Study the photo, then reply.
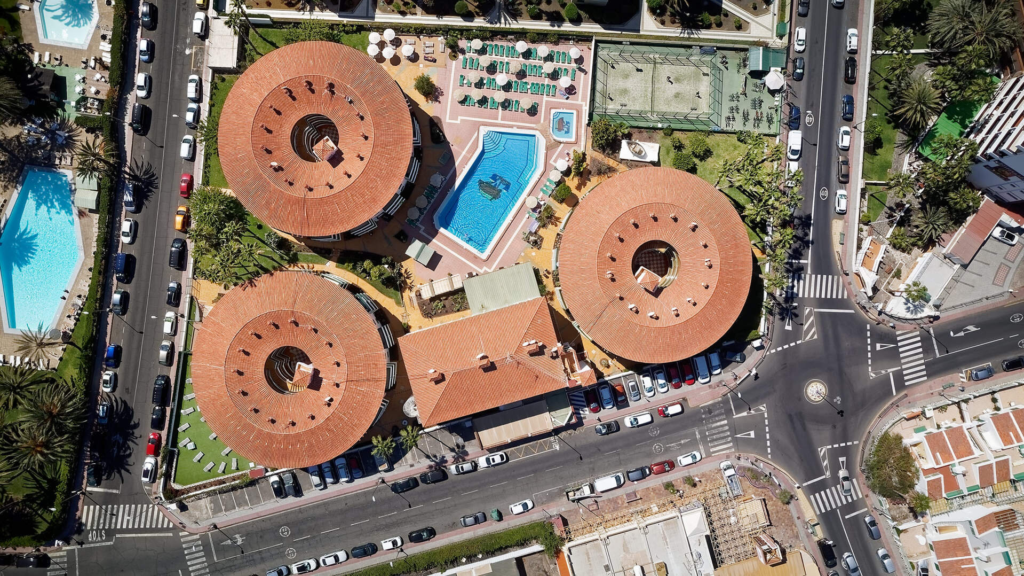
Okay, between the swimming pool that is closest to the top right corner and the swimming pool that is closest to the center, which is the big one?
the swimming pool that is closest to the center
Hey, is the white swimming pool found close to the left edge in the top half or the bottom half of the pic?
top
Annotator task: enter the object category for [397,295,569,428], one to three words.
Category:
building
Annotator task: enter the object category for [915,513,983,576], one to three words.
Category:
house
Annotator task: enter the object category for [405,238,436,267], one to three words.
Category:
gazebo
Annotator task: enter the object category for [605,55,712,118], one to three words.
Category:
sports court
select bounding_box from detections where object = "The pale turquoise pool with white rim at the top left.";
[36,0,99,50]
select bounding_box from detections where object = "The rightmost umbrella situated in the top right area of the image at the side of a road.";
[763,70,785,91]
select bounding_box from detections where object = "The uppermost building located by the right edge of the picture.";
[947,80,1024,198]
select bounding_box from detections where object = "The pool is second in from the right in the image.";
[433,126,546,259]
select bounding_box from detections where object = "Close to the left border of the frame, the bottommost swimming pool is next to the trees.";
[0,165,83,334]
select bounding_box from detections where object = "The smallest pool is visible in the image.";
[550,109,577,142]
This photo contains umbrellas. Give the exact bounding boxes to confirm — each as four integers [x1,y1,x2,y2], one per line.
[369,32,381,44]
[367,45,379,57]
[763,70,785,91]
[383,29,395,41]
[526,196,538,208]
[416,197,427,208]
[401,45,413,57]
[430,175,442,186]
[559,77,571,89]
[556,159,568,171]
[408,207,420,219]
[494,91,506,103]
[479,56,490,68]
[520,98,532,110]
[468,72,480,84]
[471,89,483,102]
[454,89,465,101]
[550,171,561,182]
[471,39,482,50]
[495,74,508,87]
[382,48,394,59]
[568,48,580,60]
[510,62,522,74]
[570,147,581,158]
[515,42,527,53]
[543,62,555,74]
[537,46,549,58]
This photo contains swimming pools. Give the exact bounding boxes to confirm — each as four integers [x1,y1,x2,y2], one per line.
[0,165,83,334]
[36,0,99,50]
[550,109,577,142]
[433,126,546,259]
